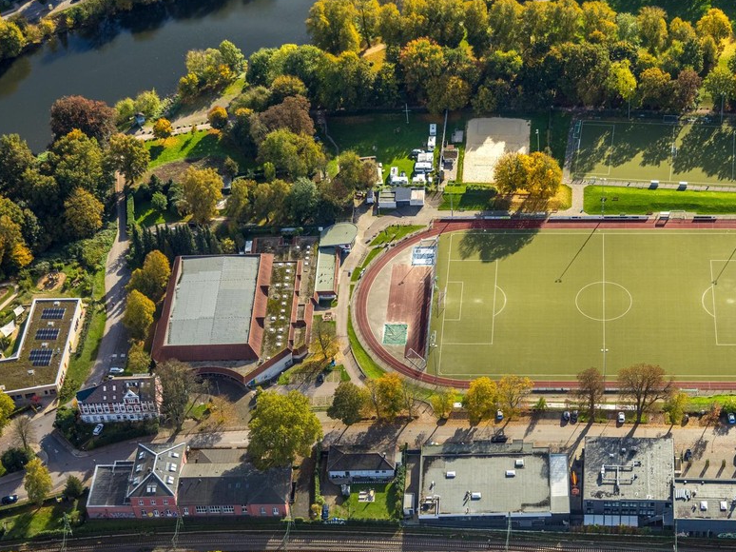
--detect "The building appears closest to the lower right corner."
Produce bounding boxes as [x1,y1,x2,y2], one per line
[674,480,736,532]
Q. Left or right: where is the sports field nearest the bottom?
right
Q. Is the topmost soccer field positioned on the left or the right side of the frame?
right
